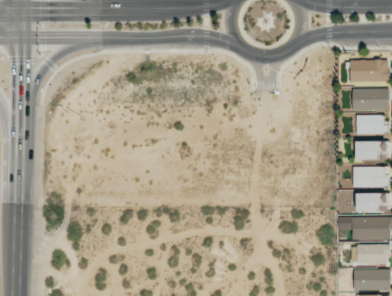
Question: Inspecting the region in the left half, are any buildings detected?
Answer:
No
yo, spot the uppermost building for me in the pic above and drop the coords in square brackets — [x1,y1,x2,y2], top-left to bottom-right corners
[346,58,390,81]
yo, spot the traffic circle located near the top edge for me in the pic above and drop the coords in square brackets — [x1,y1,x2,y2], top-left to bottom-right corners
[226,0,308,63]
